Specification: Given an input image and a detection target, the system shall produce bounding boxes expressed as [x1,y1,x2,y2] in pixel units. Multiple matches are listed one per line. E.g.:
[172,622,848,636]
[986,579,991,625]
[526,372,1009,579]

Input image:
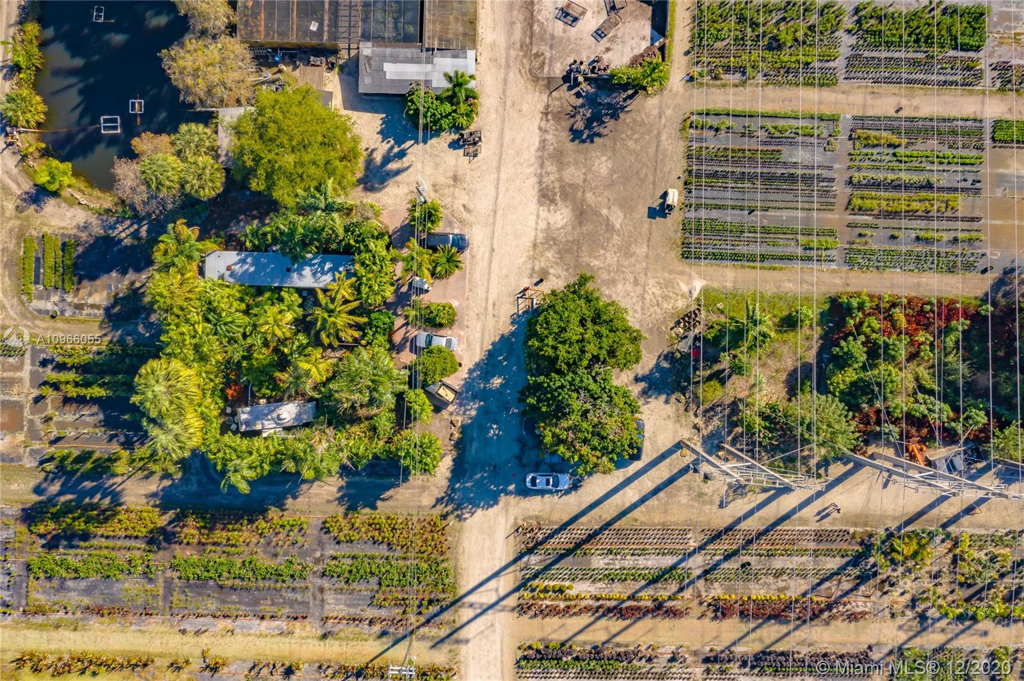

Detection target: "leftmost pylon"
[677,438,826,487]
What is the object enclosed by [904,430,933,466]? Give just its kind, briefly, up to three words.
work vehicle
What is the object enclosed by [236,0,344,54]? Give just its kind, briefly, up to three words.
house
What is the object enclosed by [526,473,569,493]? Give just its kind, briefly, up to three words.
car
